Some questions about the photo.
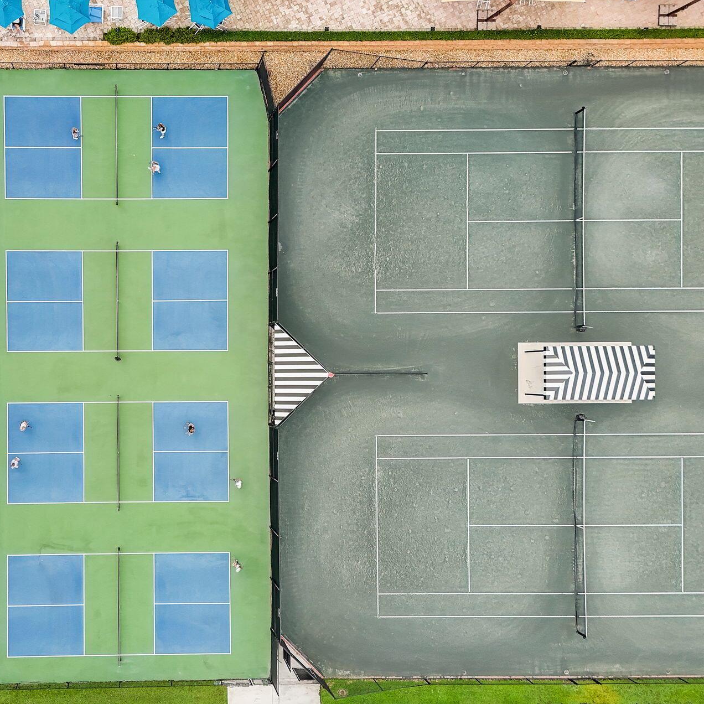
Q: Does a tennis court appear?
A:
Yes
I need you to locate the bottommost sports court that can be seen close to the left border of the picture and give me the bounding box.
[0,528,272,684]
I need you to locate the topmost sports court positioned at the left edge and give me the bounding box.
[0,70,271,225]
